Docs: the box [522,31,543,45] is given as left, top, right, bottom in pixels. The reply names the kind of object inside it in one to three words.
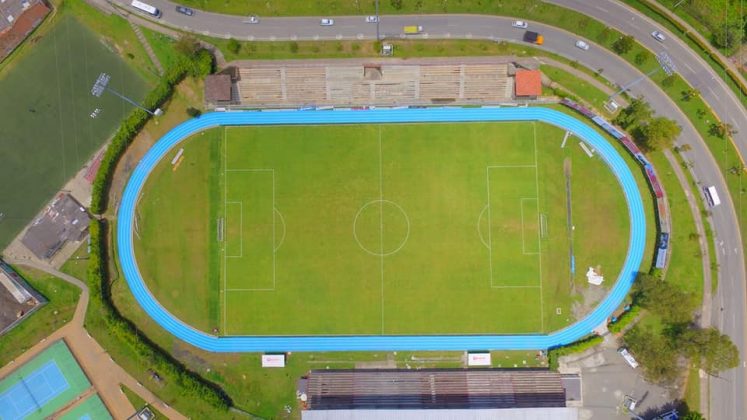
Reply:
vehicle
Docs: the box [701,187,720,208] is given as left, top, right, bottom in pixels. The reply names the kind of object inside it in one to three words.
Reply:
vehicle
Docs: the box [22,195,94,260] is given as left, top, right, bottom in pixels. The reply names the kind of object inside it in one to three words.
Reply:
building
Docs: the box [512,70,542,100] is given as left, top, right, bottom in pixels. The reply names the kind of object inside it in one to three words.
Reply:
building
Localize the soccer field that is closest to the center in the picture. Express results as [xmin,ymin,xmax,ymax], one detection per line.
[222,124,544,336]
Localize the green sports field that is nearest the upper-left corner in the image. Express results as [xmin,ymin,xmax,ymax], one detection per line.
[0,15,154,252]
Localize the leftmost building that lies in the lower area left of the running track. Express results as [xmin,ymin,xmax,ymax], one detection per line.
[0,257,53,337]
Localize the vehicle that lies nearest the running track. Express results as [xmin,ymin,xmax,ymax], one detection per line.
[614,344,637,370]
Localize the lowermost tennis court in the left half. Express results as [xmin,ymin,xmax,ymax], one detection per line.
[53,392,114,420]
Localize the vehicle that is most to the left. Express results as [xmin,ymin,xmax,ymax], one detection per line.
[131,0,163,20]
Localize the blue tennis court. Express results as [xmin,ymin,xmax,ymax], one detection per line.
[0,340,92,420]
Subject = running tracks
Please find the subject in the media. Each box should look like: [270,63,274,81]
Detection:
[118,109,645,353]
